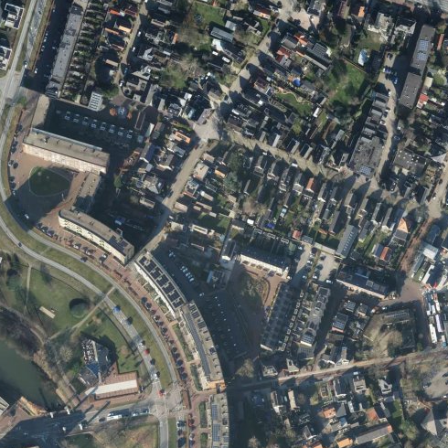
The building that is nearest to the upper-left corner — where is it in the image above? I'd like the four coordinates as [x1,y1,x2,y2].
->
[1,2,24,26]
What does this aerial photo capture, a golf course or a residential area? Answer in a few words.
residential area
